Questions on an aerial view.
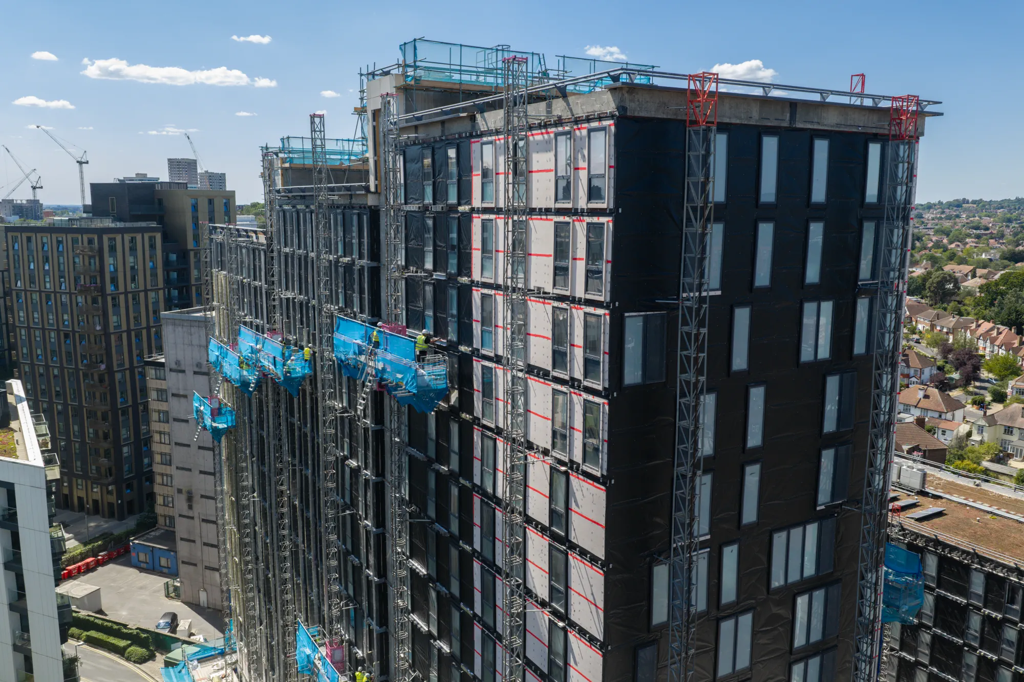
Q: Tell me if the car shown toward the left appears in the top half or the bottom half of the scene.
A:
bottom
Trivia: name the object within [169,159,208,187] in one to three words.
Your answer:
building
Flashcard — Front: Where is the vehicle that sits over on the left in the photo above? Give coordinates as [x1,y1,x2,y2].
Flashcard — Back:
[153,610,180,634]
